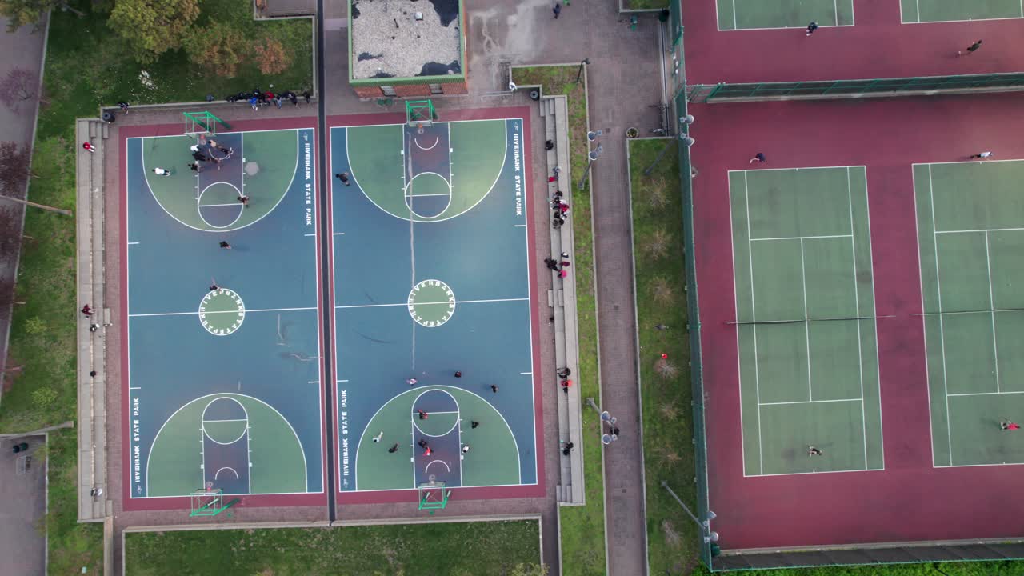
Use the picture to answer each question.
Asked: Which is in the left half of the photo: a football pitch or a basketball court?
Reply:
basketball court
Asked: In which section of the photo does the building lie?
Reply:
top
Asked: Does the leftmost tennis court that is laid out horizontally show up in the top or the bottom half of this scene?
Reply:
top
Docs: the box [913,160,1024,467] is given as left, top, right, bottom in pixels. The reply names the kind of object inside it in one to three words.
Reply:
tennis court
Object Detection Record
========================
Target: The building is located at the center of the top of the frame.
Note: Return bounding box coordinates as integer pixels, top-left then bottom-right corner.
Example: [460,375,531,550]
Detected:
[348,0,467,99]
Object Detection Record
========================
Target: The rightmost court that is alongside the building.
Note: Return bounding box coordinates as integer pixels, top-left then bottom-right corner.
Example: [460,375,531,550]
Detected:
[328,107,545,504]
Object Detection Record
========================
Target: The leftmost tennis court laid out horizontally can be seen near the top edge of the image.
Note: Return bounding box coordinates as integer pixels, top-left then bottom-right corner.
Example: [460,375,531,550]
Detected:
[716,0,855,31]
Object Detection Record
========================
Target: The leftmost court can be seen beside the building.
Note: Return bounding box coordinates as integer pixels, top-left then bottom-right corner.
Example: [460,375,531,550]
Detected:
[119,118,328,510]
